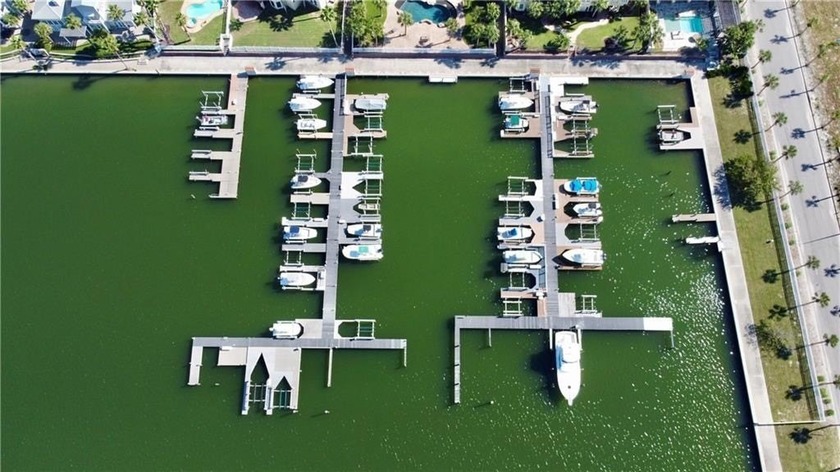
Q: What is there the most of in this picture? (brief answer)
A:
water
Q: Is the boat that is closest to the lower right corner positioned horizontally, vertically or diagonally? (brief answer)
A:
vertically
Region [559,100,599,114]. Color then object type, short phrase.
white boat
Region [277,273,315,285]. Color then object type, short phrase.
white boat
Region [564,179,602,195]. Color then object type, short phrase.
blue boat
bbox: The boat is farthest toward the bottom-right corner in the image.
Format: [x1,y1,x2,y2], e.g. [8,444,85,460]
[554,332,581,405]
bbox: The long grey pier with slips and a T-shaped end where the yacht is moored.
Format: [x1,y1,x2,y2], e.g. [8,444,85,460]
[453,75,676,405]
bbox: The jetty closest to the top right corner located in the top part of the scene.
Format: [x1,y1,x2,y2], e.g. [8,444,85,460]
[654,107,704,152]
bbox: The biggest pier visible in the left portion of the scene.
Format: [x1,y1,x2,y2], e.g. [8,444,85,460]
[187,72,409,415]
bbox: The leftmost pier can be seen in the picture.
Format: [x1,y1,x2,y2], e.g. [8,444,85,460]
[187,76,249,200]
